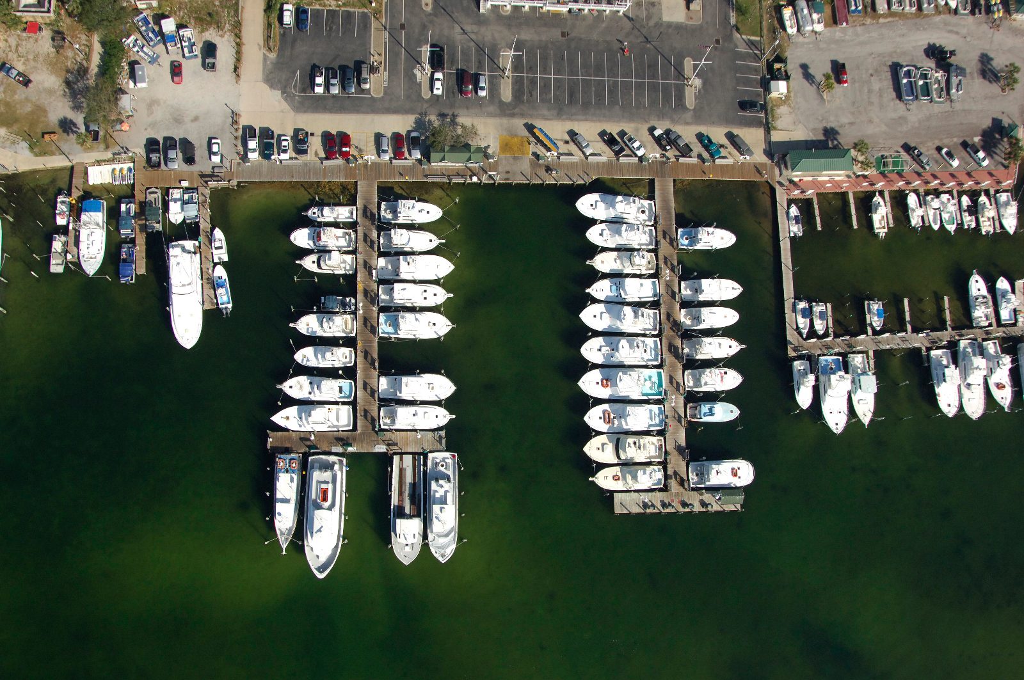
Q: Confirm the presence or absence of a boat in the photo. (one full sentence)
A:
Yes, the frame does contain a boat.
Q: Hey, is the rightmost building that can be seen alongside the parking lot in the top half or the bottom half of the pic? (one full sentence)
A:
The rightmost building that can be seen alongside the parking lot is in the top half of the image.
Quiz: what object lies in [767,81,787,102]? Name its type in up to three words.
shed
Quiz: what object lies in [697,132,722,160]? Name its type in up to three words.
truck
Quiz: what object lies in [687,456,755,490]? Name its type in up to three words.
boat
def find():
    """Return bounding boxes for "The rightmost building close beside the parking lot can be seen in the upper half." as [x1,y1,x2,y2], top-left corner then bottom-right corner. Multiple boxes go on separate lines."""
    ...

[789,149,854,181]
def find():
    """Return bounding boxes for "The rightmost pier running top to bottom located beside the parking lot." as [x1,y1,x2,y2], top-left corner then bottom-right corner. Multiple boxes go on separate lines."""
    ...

[614,179,740,514]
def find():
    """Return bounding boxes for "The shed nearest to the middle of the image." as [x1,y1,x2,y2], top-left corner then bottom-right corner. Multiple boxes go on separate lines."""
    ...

[431,142,484,167]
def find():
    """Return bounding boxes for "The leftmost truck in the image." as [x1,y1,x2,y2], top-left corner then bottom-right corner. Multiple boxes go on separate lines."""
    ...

[0,62,33,88]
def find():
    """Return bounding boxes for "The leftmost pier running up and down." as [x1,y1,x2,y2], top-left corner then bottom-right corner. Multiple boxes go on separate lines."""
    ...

[67,162,85,261]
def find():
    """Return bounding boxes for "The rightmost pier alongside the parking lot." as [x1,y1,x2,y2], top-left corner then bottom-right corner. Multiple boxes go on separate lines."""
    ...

[775,186,1024,356]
